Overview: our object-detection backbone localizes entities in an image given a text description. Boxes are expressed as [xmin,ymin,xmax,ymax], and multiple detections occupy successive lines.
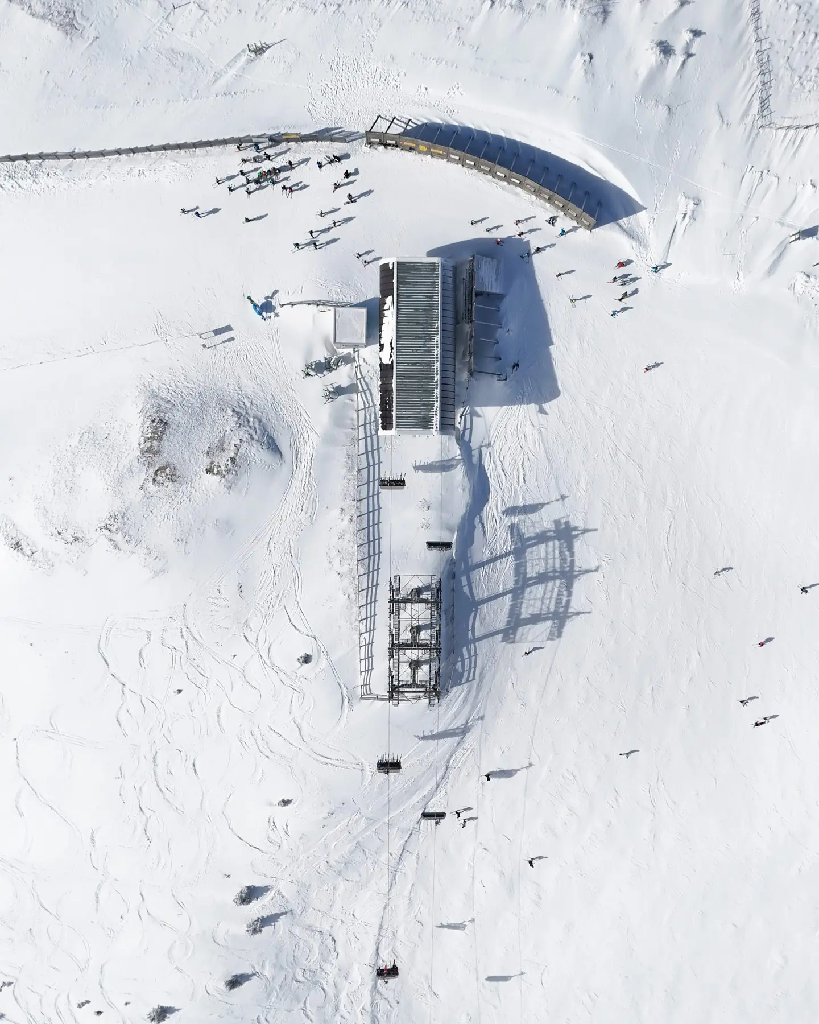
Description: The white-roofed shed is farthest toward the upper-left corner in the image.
[334,308,367,348]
